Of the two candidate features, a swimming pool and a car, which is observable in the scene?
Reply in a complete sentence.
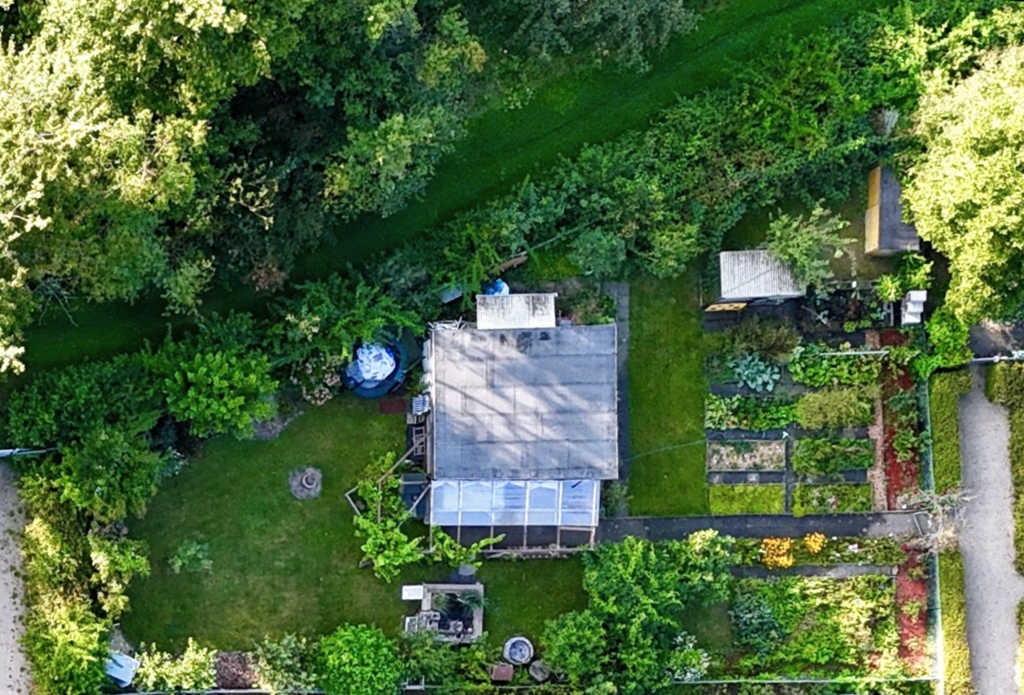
The one in the frame is a swimming pool.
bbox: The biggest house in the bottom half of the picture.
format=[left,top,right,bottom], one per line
[426,325,618,523]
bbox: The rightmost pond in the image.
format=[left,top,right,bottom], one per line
[421,585,484,642]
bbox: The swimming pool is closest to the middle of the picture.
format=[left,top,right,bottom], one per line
[343,333,408,396]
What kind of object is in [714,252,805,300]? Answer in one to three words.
shed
